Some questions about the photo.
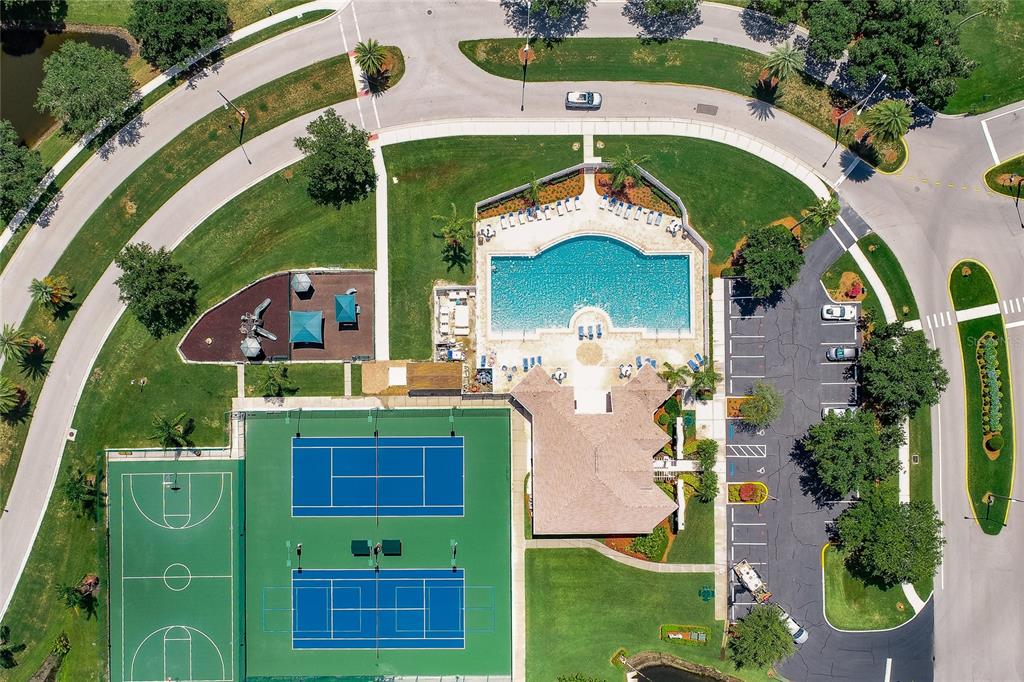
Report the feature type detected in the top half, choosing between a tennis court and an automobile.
automobile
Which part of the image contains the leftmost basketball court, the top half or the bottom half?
bottom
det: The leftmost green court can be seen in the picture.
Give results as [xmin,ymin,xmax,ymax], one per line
[108,459,244,682]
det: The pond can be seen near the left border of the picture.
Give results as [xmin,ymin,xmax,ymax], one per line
[0,35,131,171]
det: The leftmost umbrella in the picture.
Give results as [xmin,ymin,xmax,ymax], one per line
[241,338,261,356]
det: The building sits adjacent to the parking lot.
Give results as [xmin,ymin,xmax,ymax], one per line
[508,363,678,536]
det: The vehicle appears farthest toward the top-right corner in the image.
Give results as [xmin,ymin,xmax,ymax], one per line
[822,304,857,321]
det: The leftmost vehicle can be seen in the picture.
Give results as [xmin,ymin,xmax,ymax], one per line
[566,92,602,110]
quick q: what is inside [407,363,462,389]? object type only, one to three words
shed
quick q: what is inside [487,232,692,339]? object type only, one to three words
swimming pool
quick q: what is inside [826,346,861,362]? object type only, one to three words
car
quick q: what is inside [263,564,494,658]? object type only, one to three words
tennis court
